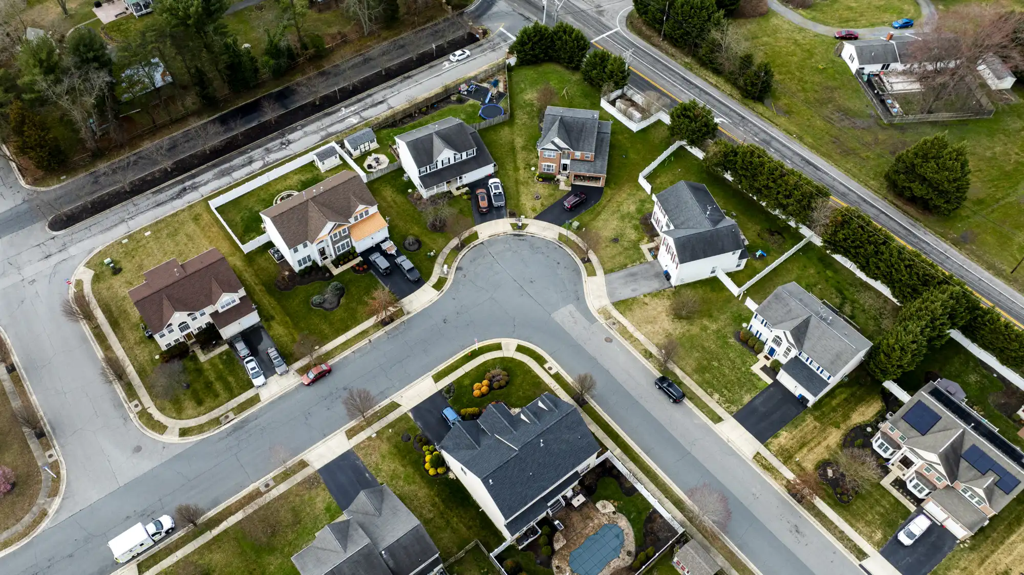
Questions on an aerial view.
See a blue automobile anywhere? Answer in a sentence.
Yes, this view includes a blue automobile.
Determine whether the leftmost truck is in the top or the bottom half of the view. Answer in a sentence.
You can find the leftmost truck in the bottom half.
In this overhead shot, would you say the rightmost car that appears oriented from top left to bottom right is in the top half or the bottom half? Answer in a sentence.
The rightmost car that appears oriented from top left to bottom right sits in the bottom half of the picture.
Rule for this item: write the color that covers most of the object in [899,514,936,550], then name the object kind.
white car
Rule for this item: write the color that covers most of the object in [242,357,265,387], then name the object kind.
white car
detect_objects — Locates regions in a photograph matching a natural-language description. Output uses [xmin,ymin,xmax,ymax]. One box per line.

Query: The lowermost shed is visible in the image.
[671,541,728,575]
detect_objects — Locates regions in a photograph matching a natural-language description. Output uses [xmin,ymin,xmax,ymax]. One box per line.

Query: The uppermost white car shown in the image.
[449,49,471,62]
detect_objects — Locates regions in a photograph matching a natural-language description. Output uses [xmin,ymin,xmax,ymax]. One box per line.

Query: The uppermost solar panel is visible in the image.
[900,396,945,437]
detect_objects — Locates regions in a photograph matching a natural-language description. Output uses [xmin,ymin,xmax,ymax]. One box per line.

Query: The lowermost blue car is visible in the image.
[437,404,464,432]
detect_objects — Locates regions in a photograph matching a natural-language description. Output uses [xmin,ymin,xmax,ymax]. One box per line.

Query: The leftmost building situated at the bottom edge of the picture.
[291,484,444,575]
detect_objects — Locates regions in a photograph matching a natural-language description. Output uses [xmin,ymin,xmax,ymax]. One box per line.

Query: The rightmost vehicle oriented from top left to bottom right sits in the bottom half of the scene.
[653,376,687,406]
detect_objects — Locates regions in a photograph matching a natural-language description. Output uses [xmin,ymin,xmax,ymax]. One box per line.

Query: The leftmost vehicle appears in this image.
[100,523,173,574]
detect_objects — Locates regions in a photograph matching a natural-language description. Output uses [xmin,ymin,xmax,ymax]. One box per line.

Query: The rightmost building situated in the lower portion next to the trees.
[873,376,1024,541]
